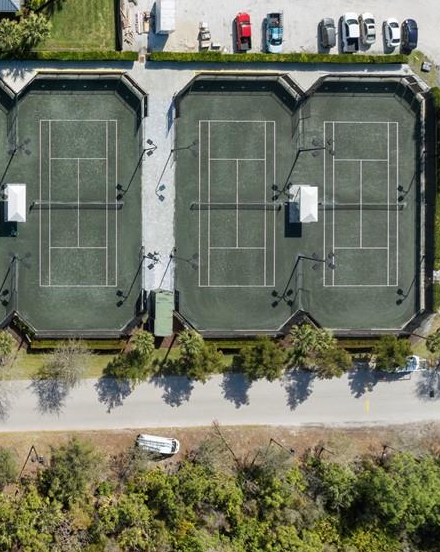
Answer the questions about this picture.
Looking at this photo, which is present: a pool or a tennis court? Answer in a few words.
tennis court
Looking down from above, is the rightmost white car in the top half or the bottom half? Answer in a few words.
top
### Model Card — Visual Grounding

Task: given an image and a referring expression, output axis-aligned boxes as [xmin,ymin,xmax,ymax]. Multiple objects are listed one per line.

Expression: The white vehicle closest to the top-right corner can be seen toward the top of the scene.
[382,17,402,50]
